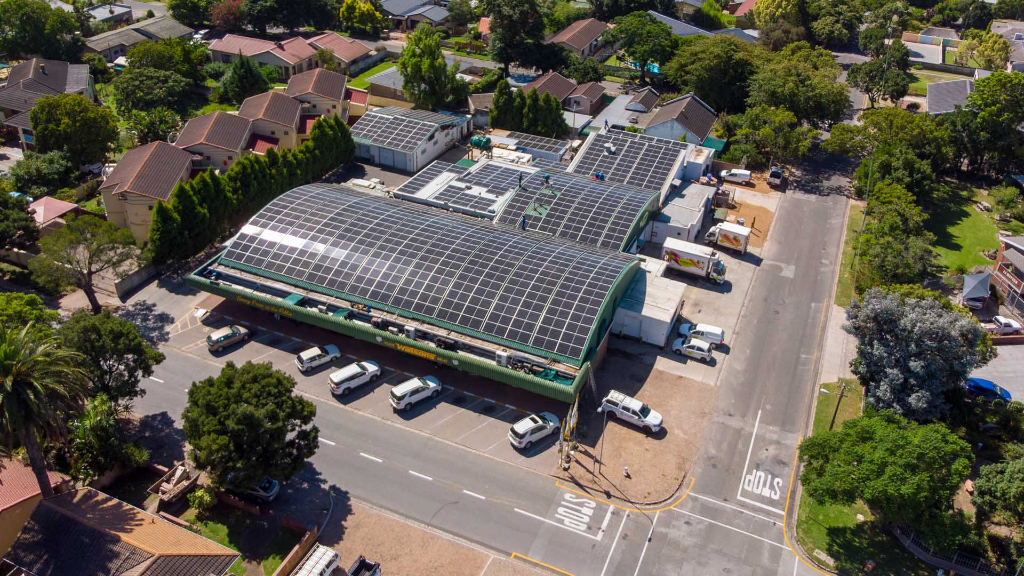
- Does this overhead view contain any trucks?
Yes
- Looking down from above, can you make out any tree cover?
Yes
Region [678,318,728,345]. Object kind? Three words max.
vehicle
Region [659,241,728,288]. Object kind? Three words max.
truck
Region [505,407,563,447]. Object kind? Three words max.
car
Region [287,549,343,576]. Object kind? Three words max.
vehicle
